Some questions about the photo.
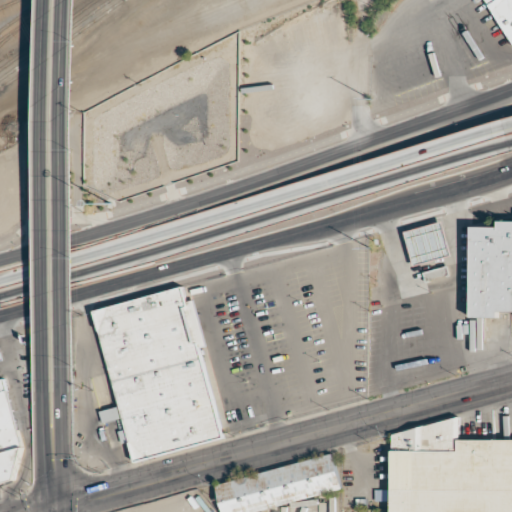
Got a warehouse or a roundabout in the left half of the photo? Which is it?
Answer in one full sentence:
What appears in the left half of the photo is a warehouse.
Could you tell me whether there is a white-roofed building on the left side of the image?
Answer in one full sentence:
Yes, a white-roofed building is visible on the left side of the image.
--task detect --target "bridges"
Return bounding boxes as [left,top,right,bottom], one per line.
[28,0,73,468]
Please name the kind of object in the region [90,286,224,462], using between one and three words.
warehouse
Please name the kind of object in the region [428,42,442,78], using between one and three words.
vehicle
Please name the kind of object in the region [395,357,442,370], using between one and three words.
vehicle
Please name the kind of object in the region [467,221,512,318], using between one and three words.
building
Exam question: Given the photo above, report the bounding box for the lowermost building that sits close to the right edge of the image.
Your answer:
[388,439,512,512]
